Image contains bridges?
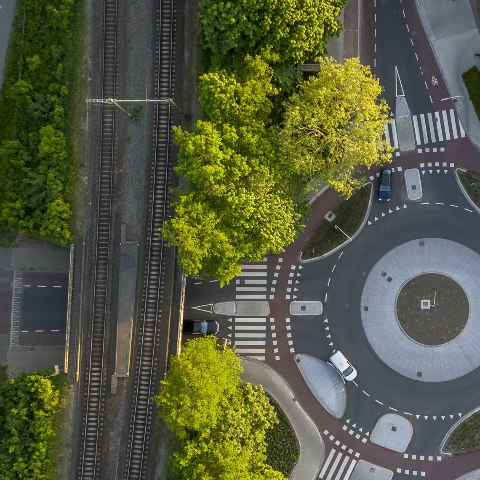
Yes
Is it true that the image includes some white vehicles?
Yes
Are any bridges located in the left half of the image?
Yes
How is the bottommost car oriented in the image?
at an angle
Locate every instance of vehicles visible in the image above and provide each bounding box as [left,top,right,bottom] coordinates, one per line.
[328,349,357,382]
[376,167,393,201]
[184,320,218,336]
